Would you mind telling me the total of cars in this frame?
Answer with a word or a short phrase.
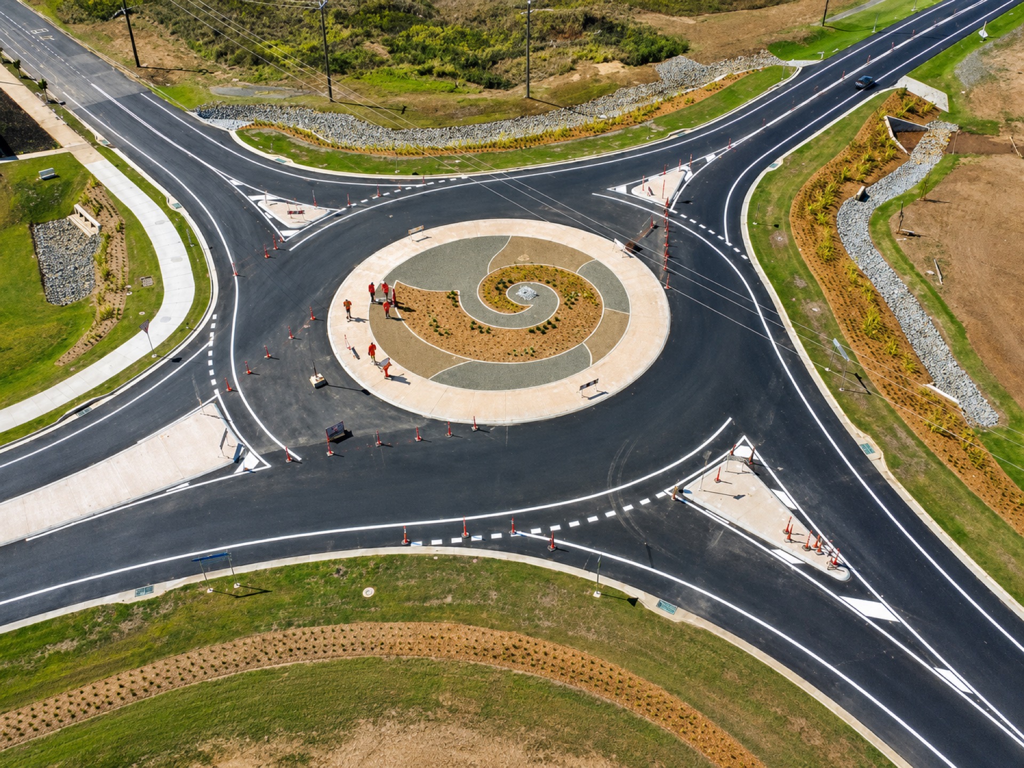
one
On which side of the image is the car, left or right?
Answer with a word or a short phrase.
right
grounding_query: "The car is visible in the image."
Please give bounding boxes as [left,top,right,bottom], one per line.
[852,70,879,90]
